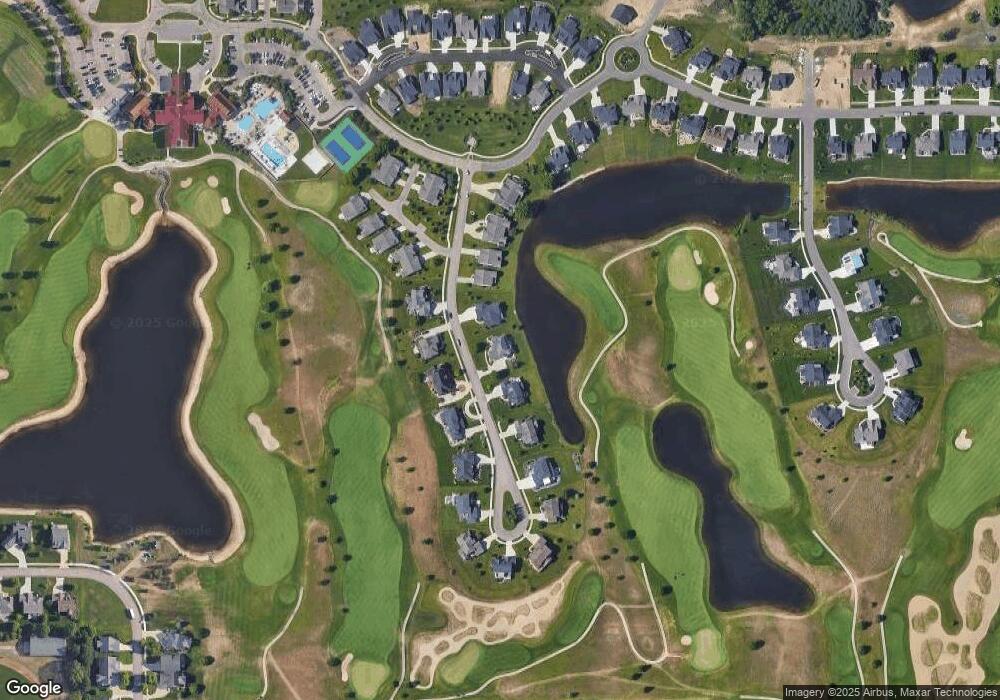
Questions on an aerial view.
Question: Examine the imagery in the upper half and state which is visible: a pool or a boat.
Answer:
pool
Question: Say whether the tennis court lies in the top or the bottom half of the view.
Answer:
top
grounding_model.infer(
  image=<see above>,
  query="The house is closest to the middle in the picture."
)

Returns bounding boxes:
[484,333,515,361]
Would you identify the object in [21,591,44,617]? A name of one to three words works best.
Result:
house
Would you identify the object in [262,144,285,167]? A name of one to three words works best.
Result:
swimming pool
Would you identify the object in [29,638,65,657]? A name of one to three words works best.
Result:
shed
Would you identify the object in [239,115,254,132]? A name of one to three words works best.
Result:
swimming pool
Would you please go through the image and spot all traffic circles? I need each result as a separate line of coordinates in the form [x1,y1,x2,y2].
[604,36,650,82]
